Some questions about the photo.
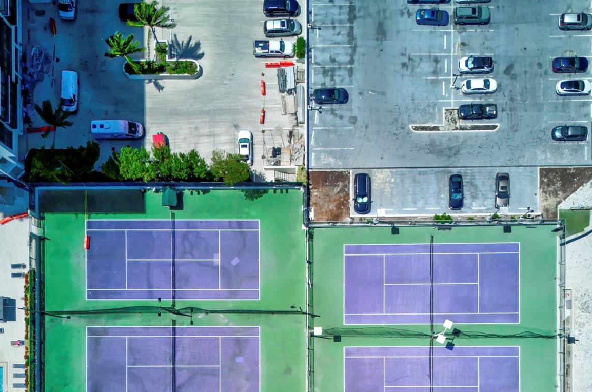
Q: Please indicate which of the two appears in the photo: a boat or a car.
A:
car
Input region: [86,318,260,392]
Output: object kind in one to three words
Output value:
tennis court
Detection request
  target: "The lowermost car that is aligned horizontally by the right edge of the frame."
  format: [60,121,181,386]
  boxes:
[550,124,588,142]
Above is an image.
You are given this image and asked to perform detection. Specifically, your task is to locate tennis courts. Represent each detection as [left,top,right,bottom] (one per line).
[344,338,520,392]
[343,234,520,331]
[86,210,260,308]
[86,318,260,392]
